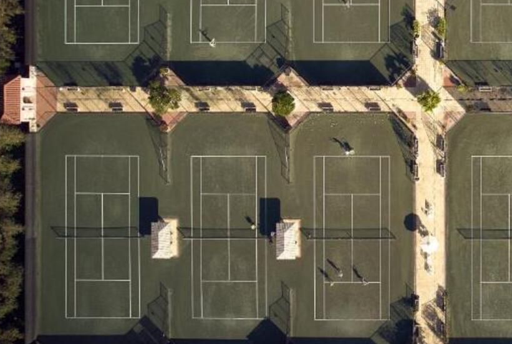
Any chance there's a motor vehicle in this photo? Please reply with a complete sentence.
No, I can't see a single motor vehicle in this photo.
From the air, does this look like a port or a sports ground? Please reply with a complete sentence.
What you see here is a sports ground.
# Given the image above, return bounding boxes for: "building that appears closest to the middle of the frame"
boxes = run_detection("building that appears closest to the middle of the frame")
[276,220,300,260]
